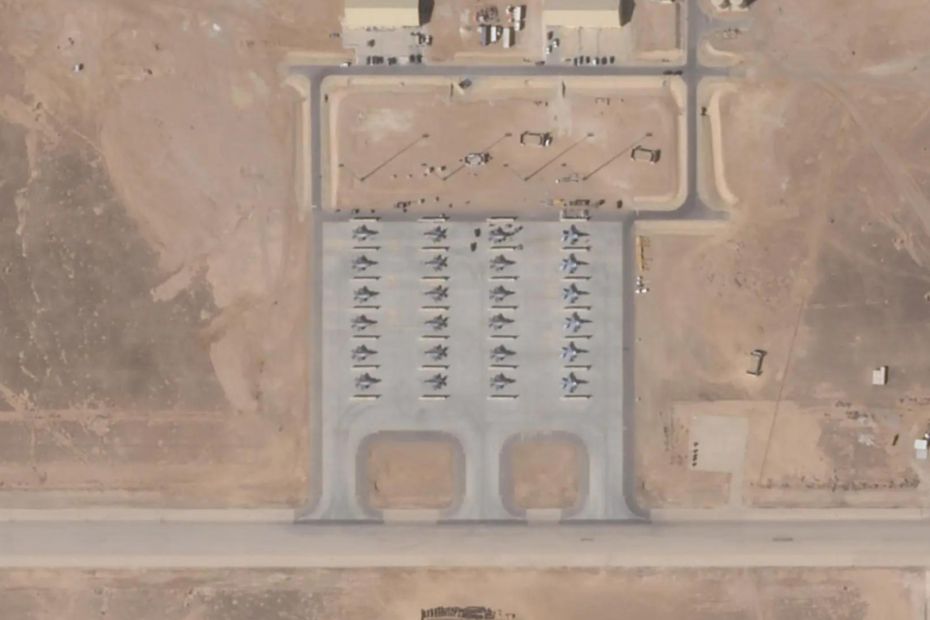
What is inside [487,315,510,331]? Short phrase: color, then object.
gray airplane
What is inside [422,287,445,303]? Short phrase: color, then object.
gray airplane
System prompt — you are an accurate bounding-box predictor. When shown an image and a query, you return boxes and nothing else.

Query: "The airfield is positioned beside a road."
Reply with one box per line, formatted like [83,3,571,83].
[0,221,930,567]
